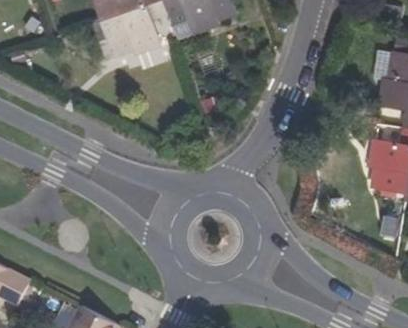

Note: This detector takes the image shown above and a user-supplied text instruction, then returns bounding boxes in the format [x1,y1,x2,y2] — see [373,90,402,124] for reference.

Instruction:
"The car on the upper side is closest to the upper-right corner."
[306,39,320,64]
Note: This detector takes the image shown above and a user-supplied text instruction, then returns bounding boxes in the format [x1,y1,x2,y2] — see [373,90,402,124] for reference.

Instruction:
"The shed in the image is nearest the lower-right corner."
[380,218,398,242]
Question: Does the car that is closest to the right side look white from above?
No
